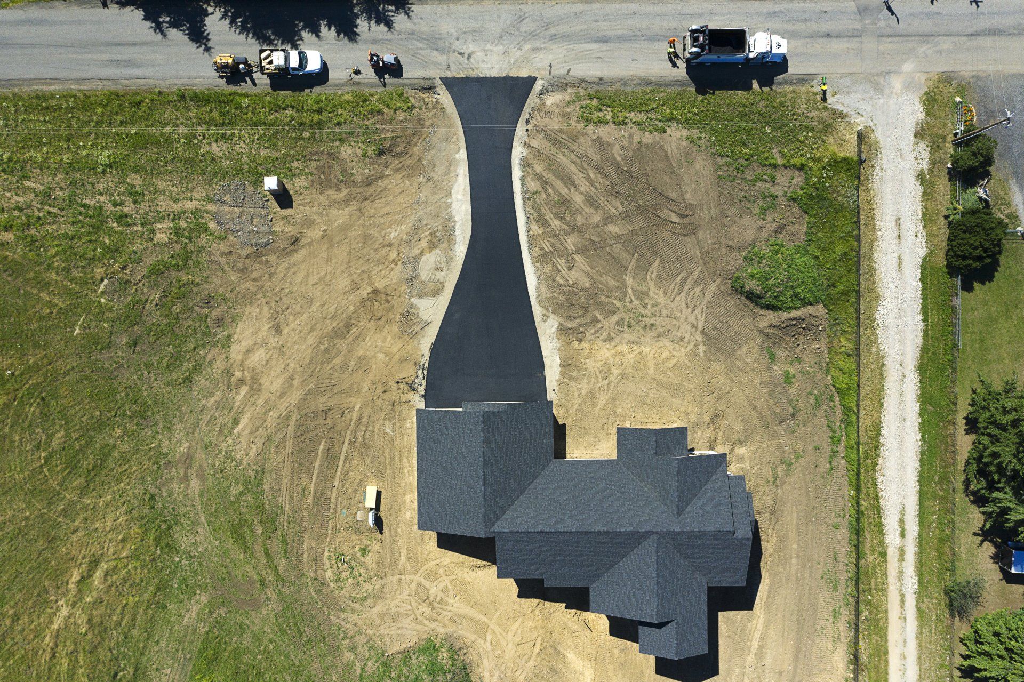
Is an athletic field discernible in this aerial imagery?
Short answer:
No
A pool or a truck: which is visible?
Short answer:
truck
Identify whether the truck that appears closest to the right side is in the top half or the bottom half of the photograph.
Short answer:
top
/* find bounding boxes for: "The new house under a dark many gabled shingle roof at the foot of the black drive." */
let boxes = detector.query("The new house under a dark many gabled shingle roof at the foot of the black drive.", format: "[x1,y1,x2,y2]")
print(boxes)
[416,401,756,659]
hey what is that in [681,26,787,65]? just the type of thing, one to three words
truck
